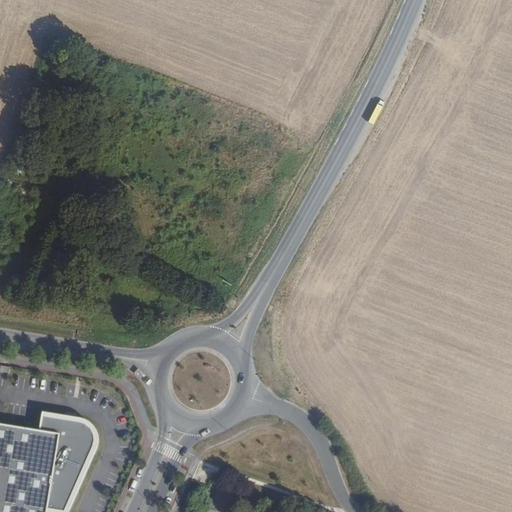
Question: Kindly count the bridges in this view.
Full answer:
There are no bridges in this view.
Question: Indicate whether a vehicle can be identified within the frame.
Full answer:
Yes, there is a vehicle in the image.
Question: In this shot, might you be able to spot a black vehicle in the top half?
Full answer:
No, no black vehicle appears in the top half.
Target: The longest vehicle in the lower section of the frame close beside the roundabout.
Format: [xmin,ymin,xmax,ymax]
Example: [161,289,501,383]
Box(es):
[133,368,151,385]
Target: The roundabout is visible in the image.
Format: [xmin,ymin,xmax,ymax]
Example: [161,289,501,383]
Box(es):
[148,328,254,434]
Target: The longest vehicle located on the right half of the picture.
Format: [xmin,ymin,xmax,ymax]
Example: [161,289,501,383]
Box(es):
[368,97,384,124]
